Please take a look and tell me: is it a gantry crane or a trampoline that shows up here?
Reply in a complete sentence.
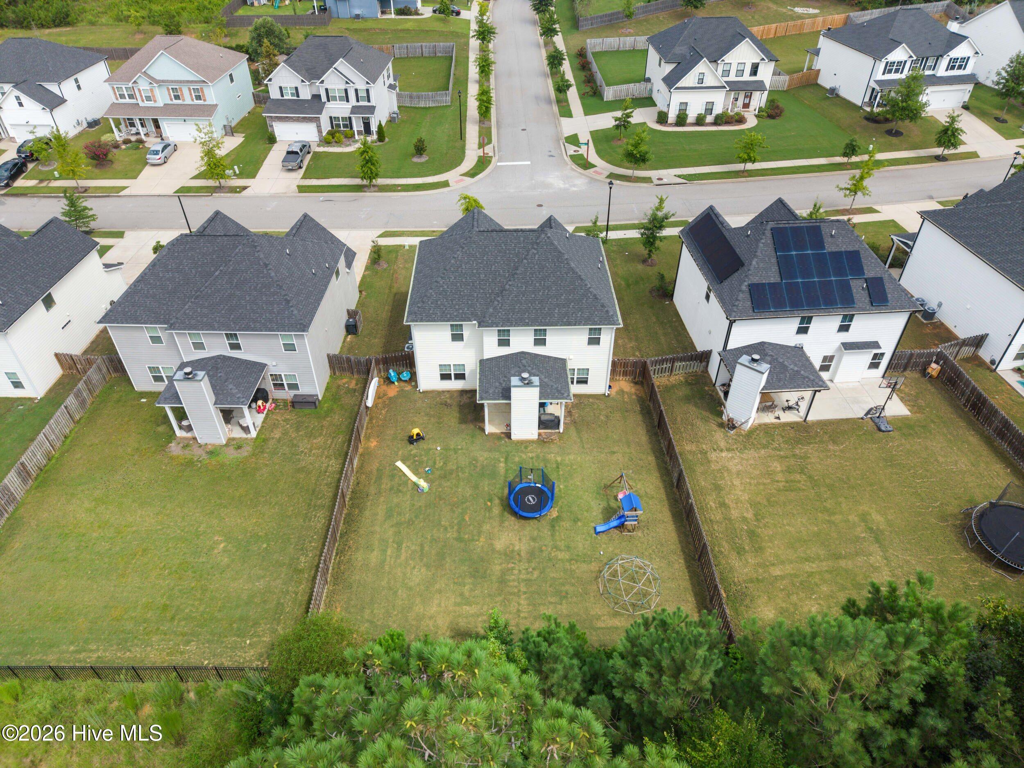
This aerial view contains a trampoline.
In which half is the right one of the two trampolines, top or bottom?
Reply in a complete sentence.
The right one of the two trampolines is in the bottom half of the image.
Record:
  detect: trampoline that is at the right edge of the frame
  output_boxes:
[945,481,1024,573]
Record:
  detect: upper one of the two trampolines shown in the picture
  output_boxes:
[508,465,556,524]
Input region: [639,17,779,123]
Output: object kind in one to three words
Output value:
house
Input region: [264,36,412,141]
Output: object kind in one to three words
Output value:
house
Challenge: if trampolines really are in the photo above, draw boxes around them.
[945,481,1024,573]
[508,465,556,524]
